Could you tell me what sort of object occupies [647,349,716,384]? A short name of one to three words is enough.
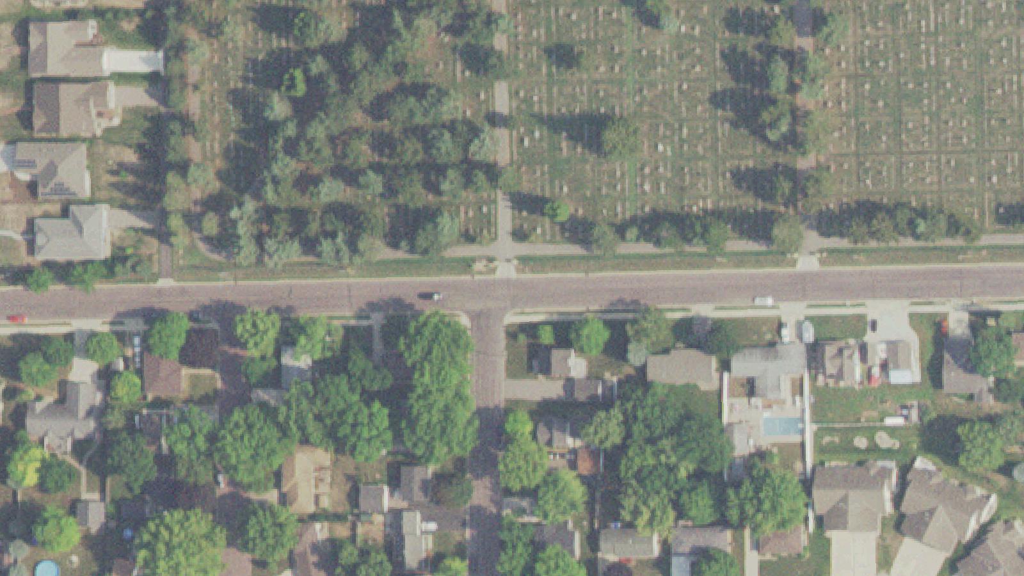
house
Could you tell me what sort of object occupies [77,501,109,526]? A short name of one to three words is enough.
building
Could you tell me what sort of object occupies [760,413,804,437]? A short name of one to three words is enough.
swimming pool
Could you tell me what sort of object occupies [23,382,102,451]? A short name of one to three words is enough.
house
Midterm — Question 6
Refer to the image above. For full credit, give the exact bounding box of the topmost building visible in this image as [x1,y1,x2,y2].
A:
[30,21,107,78]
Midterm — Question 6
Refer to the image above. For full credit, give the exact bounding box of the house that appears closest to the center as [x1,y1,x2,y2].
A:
[551,349,580,378]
